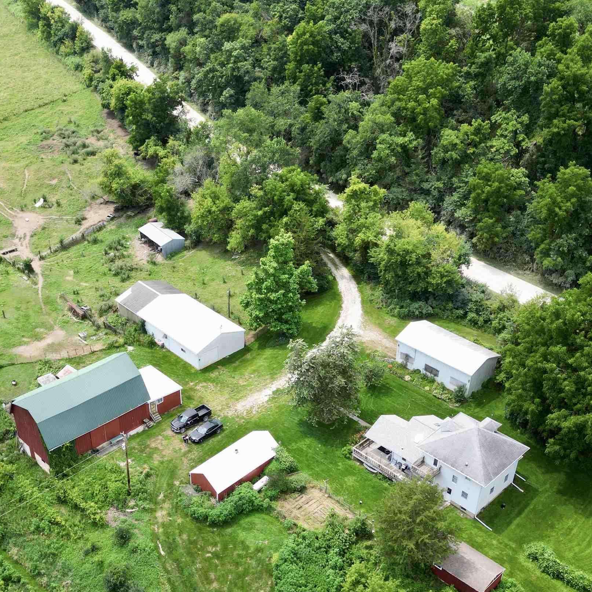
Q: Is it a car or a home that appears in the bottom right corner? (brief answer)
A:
home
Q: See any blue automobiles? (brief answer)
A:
No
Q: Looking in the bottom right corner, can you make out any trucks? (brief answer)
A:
No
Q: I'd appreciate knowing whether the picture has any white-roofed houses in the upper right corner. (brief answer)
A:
No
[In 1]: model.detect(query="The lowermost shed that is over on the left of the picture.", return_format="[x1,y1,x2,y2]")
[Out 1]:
[189,430,281,498]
